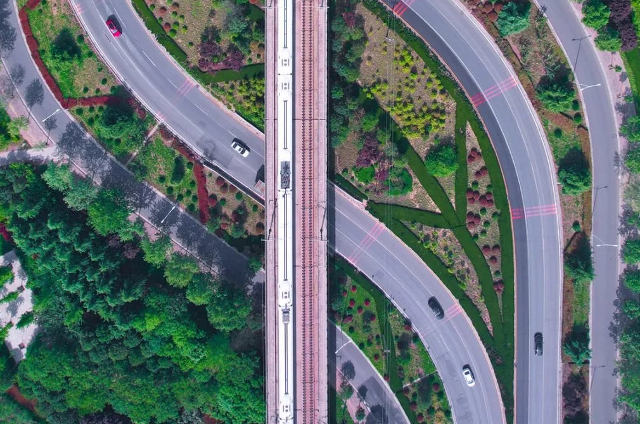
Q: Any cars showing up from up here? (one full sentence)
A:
Yes, I can see a car in this picture.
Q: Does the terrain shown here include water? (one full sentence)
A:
No, there is no water in the image.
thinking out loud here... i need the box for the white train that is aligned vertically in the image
[276,0,293,424]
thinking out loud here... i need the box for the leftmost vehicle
[106,16,122,37]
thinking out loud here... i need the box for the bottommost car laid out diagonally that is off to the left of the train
[230,139,251,155]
